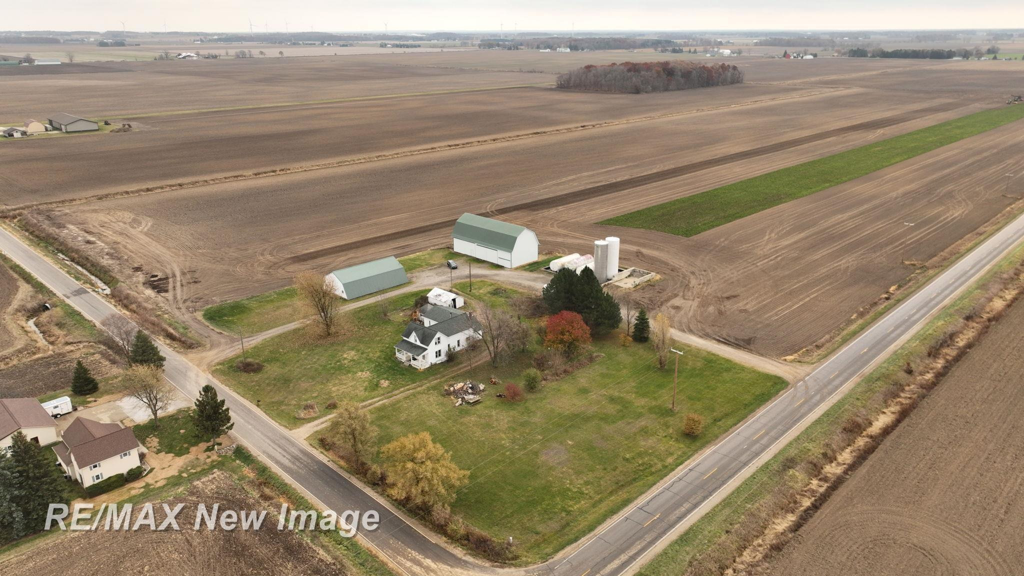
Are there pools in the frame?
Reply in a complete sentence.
No, this view has no pool in it.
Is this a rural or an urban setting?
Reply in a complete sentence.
The area shown here is rural.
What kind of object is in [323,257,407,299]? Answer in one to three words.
shed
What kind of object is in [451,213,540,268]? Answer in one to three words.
barn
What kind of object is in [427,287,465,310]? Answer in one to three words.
shed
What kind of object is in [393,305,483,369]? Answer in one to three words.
house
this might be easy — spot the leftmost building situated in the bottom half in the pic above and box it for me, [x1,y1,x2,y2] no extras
[0,397,59,460]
